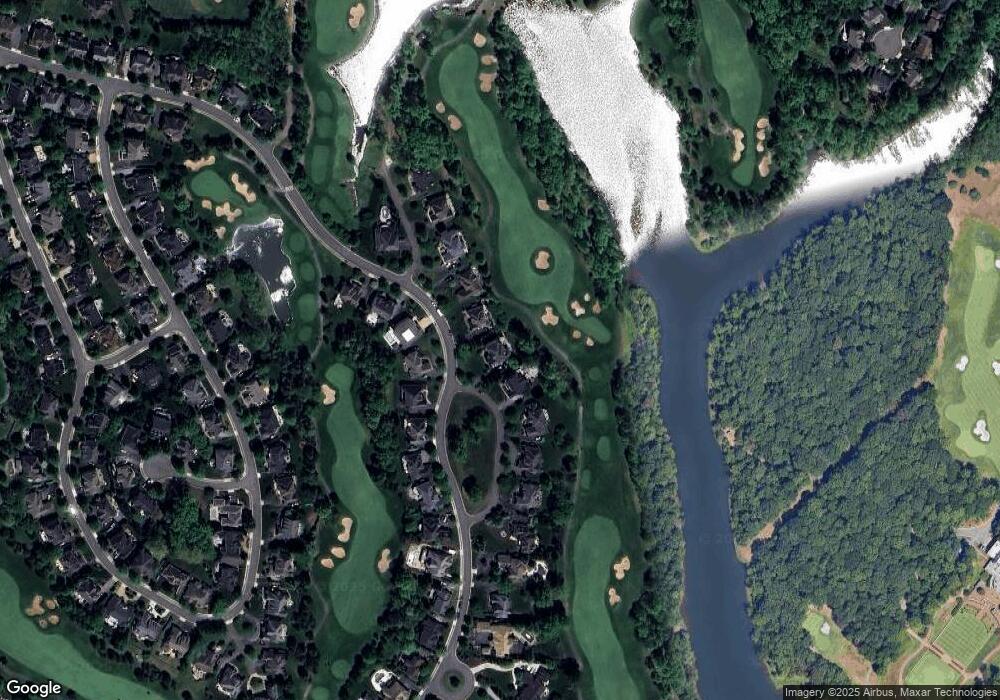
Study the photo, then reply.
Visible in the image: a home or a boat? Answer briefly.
home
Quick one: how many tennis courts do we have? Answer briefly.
zero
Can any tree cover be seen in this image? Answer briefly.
Yes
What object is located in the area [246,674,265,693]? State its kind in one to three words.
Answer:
swimming pool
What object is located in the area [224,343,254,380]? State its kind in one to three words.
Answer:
house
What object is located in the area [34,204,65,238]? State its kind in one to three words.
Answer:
house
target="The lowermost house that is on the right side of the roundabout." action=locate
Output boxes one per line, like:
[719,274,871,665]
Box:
[512,665,560,700]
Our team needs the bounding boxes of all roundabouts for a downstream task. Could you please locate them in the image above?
[431,658,476,700]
